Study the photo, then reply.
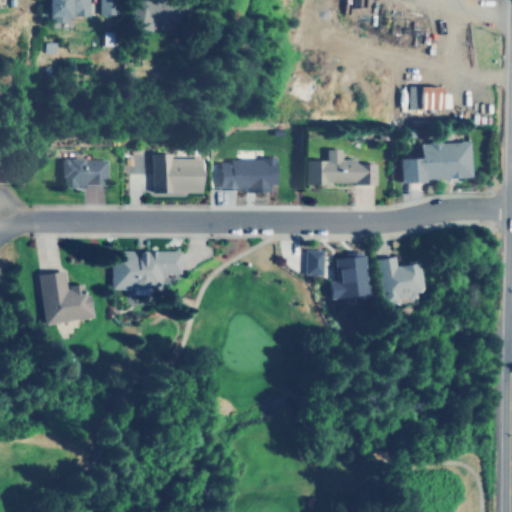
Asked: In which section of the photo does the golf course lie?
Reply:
bottom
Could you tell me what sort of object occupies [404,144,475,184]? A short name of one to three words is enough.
house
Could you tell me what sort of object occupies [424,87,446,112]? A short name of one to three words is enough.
shed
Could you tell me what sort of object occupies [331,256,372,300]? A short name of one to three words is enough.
house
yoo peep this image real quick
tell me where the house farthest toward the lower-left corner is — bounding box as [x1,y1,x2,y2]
[37,270,94,325]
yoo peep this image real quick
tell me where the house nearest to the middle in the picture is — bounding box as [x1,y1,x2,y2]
[306,250,324,276]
